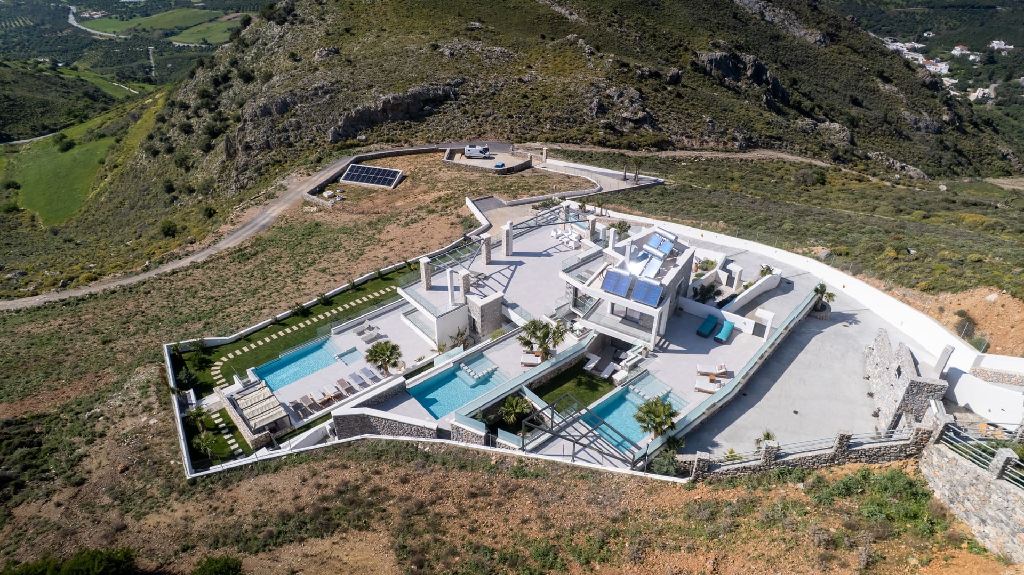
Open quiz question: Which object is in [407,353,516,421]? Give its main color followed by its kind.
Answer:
blue swimming pool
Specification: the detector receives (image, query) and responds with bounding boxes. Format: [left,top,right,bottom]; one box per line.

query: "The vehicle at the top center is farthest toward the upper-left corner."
[463,144,492,160]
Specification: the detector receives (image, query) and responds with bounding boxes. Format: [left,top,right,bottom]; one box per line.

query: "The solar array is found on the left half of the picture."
[341,164,404,192]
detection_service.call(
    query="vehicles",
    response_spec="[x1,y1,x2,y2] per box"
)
[463,144,492,160]
[494,159,506,169]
